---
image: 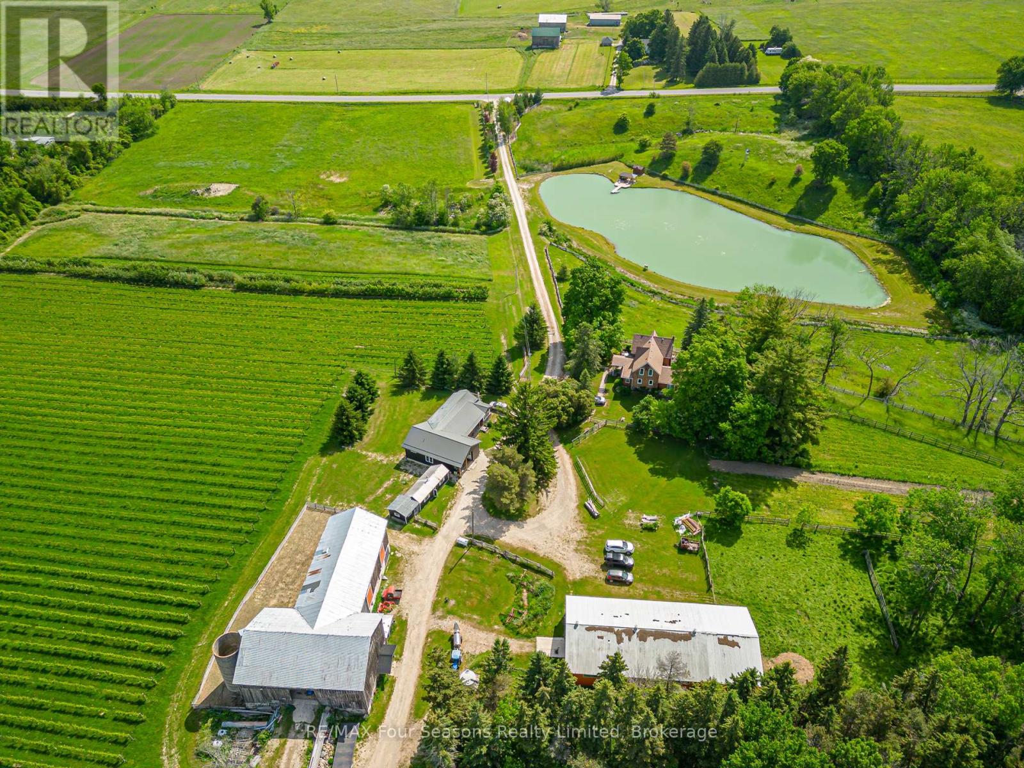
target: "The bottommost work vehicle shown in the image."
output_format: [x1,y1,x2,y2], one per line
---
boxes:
[447,647,464,675]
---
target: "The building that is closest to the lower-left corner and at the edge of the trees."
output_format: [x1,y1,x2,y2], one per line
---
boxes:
[231,502,398,714]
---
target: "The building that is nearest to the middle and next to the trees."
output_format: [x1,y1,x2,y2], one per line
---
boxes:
[402,385,496,479]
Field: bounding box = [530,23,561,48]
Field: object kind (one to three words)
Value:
barn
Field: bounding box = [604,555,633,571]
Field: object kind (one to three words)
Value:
car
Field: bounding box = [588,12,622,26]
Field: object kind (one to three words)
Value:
shed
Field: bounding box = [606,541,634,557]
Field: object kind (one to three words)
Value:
car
